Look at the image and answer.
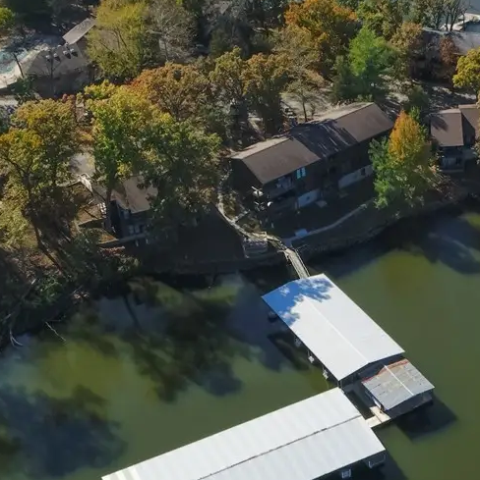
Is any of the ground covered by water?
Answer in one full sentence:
Yes, water shows up in the scene.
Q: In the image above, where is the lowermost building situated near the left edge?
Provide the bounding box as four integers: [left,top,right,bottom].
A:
[21,42,94,83]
